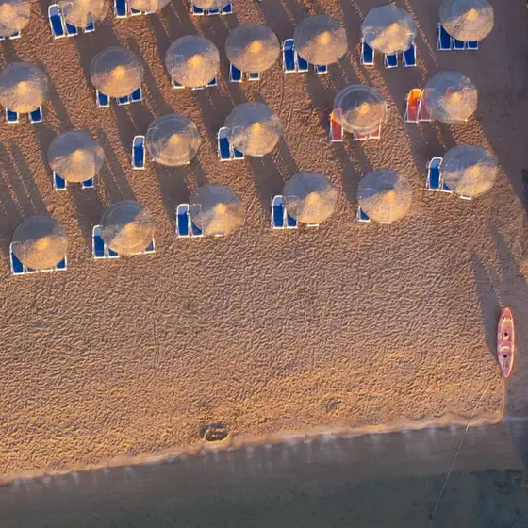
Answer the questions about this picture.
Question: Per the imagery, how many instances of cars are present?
0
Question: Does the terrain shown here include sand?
Yes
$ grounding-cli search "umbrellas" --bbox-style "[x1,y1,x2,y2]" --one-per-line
[292,15,348,65]
[279,171,337,224]
[164,37,219,87]
[12,217,68,270]
[224,103,282,154]
[361,5,417,53]
[225,24,280,72]
[0,64,50,112]
[424,72,480,123]
[88,47,144,97]
[441,144,499,196]
[57,0,111,27]
[437,0,494,42]
[98,200,154,253]
[124,0,171,14]
[187,183,245,237]
[47,131,105,184]
[331,85,387,133]
[357,170,414,223]
[0,0,31,37]
[145,116,200,167]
